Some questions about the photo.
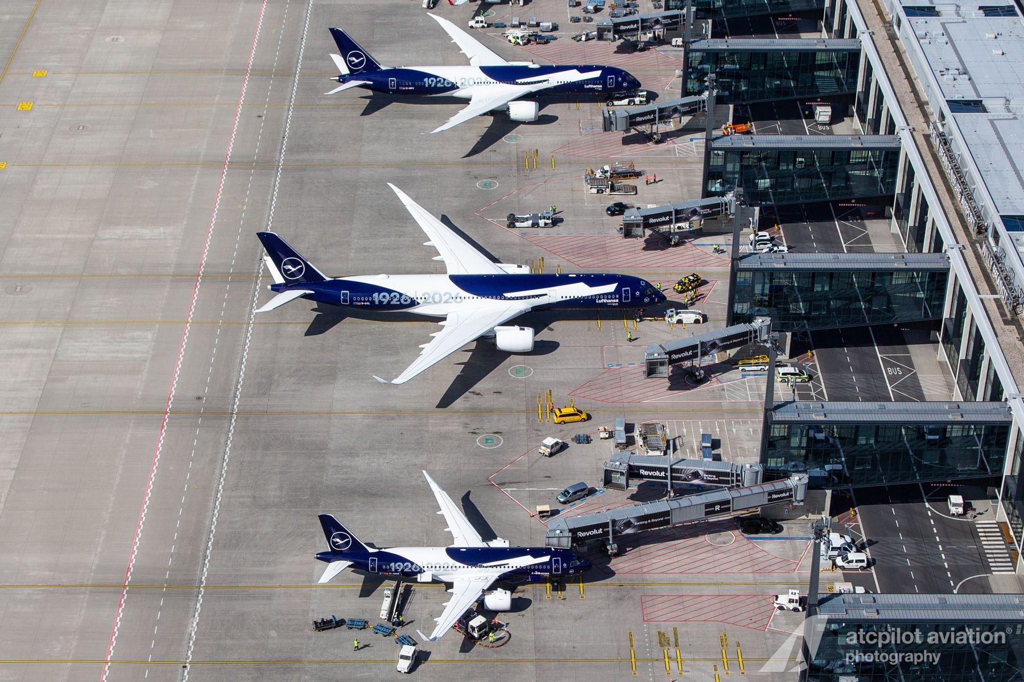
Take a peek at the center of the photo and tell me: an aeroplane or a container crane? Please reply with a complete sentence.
What appears at the center of the photo is an aeroplane.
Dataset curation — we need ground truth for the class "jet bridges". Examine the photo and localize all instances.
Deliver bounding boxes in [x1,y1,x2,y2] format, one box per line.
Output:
[547,475,811,559]
[595,10,696,52]
[643,318,772,384]
[601,448,762,503]
[621,194,742,247]
[601,93,717,144]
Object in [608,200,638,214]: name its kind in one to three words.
vehicle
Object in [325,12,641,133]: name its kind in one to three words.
airplane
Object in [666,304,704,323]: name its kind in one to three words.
work vehicle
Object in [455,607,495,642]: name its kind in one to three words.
truck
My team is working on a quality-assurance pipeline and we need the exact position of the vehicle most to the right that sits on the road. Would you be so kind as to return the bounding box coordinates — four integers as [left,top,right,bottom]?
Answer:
[948,491,965,513]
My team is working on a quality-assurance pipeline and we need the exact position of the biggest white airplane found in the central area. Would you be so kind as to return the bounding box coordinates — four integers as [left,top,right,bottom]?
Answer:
[256,182,668,380]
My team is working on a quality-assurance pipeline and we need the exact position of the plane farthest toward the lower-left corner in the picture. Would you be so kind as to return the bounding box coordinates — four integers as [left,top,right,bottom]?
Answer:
[316,469,591,635]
